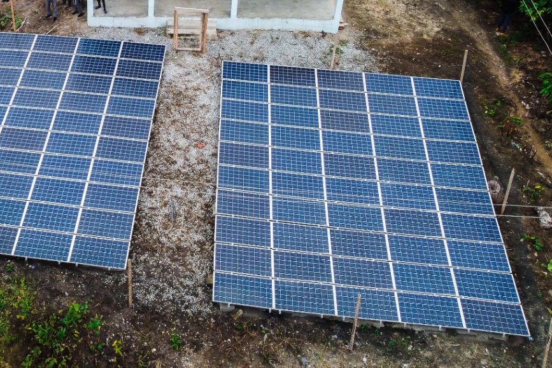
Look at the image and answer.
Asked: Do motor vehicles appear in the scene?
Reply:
No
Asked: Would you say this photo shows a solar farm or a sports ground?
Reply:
solar farm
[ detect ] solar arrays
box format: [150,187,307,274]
[0,32,164,275]
[212,62,530,344]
